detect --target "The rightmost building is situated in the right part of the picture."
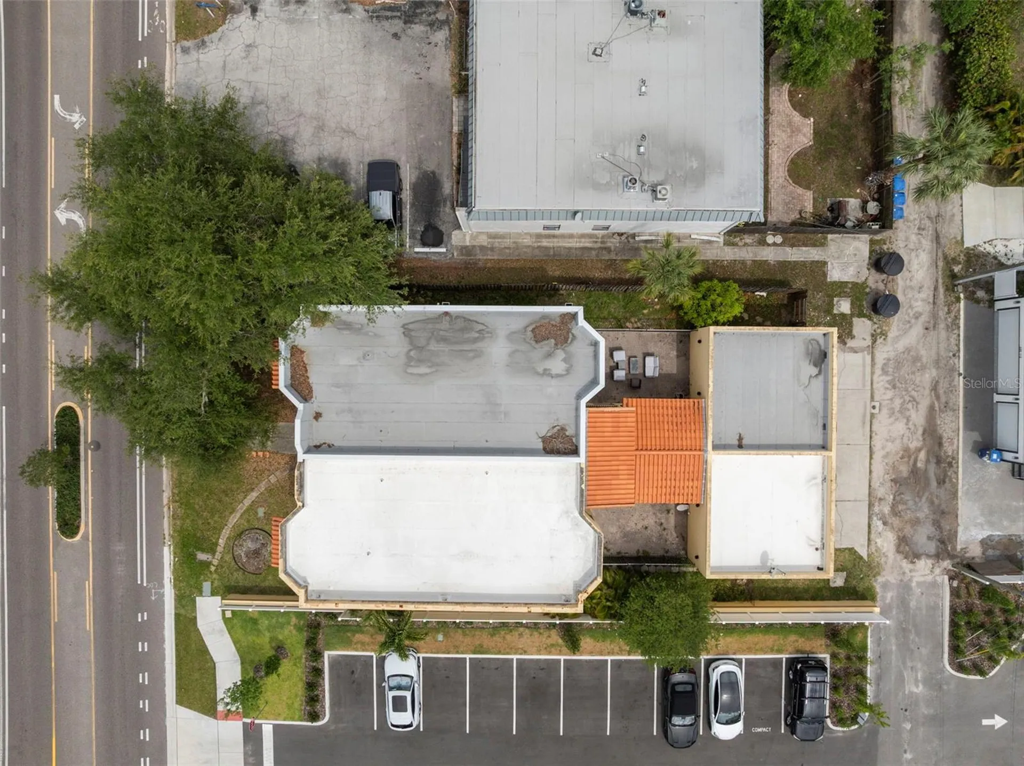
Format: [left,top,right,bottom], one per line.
[688,327,837,579]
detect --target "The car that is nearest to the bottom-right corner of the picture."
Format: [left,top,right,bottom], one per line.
[784,648,834,739]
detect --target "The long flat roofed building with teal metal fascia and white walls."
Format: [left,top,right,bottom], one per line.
[456,0,764,233]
